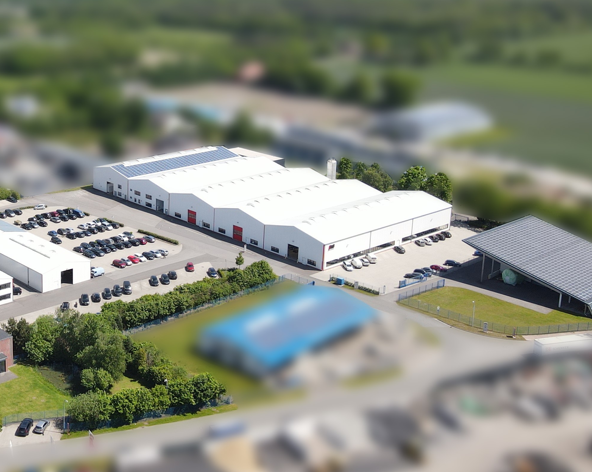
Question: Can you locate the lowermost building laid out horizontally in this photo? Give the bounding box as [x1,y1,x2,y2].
[194,294,385,392]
